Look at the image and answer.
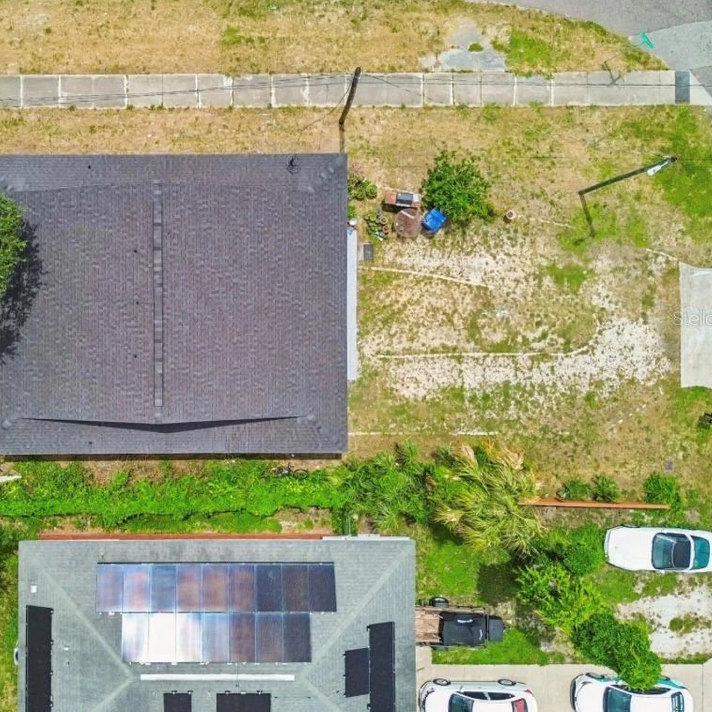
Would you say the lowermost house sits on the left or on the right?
left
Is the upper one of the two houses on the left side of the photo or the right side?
left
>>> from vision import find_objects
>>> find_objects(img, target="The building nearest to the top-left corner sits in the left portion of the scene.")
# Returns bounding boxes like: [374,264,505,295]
[0,153,350,456]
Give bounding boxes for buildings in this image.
[0,153,350,456]
[17,529,417,712]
